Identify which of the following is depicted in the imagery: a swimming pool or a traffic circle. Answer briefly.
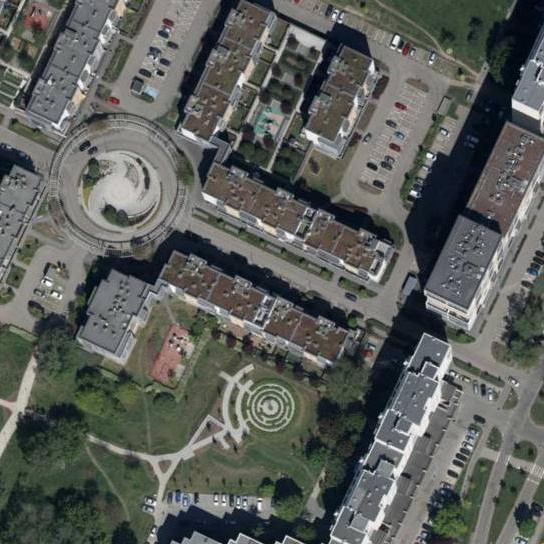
traffic circle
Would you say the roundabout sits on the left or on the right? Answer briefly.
left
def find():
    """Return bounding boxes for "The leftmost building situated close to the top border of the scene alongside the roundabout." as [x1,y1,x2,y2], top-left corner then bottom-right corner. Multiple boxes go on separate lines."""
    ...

[26,0,125,135]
